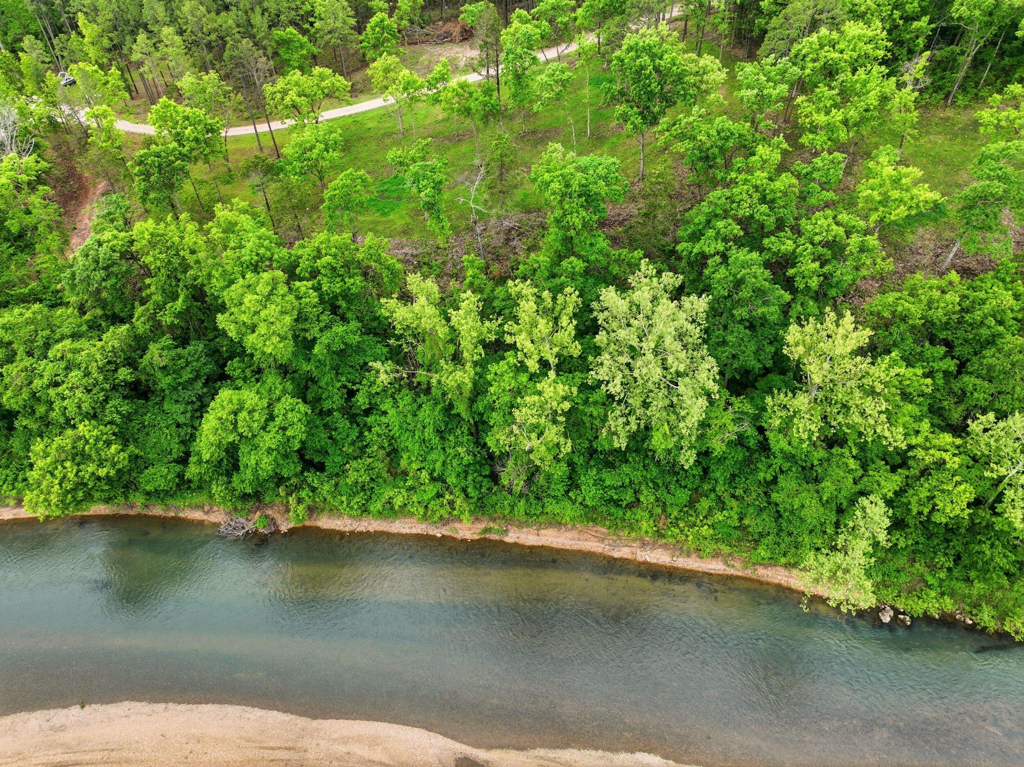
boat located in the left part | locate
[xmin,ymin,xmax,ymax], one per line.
[50,68,82,89]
